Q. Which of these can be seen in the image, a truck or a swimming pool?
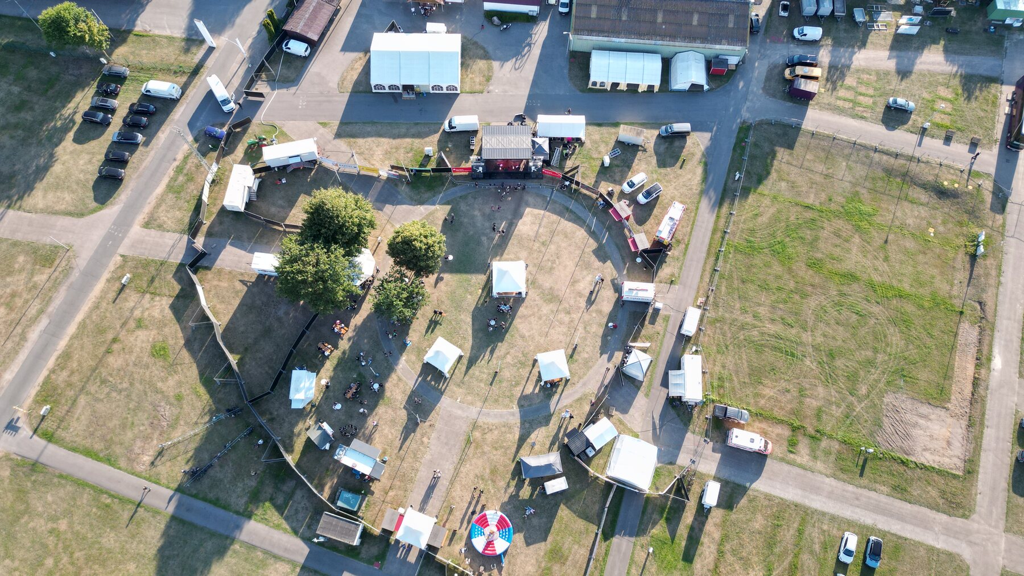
truck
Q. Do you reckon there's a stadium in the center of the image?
No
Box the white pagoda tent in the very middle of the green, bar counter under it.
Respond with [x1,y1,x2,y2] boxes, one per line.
[489,261,530,302]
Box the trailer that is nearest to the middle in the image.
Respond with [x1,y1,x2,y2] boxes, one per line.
[620,280,659,302]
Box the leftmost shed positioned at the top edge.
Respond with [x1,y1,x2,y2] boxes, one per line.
[283,0,348,46]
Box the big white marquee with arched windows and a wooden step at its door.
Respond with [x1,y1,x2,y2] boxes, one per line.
[369,32,462,101]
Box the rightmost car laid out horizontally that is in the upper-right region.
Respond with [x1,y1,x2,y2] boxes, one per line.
[885,98,915,114]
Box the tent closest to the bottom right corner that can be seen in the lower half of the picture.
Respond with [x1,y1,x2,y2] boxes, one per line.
[599,434,658,492]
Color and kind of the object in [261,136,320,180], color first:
white trailer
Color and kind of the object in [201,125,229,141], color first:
blue car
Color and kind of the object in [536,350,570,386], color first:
white tent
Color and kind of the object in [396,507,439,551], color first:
white tent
